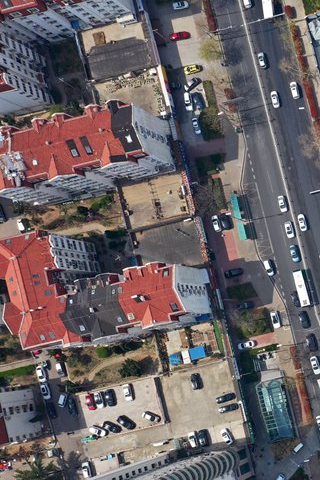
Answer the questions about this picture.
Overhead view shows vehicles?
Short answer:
Yes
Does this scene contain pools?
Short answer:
No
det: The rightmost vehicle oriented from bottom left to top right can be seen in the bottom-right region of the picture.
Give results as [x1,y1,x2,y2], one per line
[289,440,306,456]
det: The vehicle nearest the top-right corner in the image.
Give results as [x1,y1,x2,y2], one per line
[261,0,277,21]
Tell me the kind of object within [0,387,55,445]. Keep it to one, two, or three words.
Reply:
building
